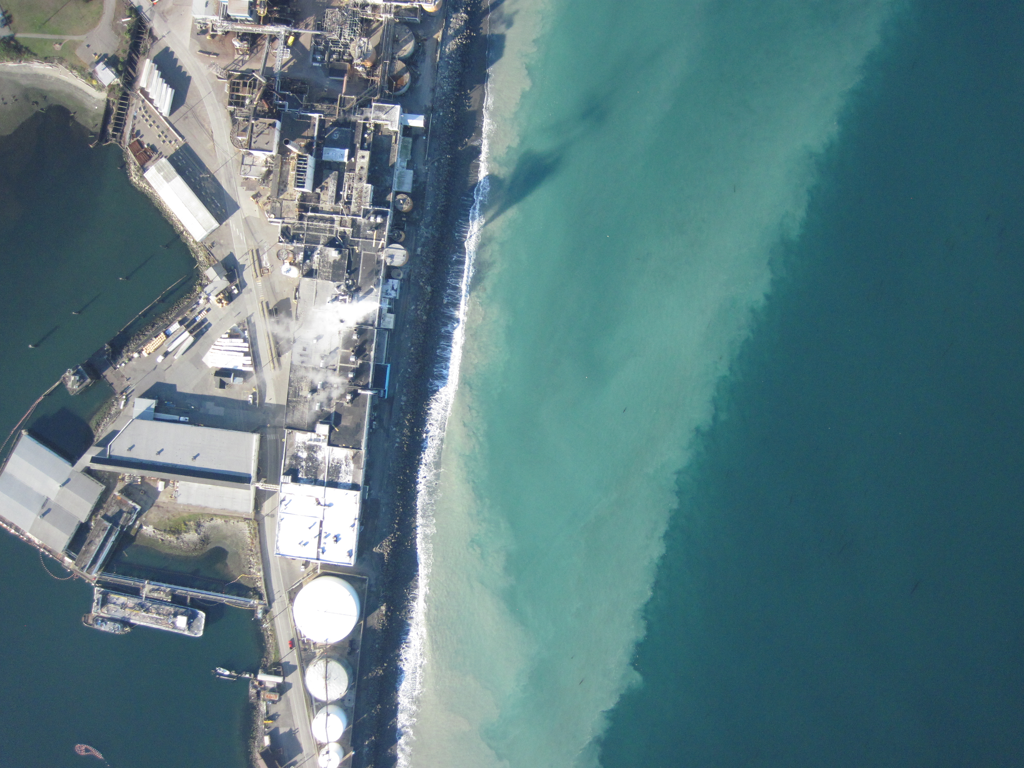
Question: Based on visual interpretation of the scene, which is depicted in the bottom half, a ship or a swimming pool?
ship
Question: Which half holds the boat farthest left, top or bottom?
bottom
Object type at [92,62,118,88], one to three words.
house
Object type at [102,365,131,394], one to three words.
pier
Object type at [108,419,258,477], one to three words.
building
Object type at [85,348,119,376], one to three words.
pier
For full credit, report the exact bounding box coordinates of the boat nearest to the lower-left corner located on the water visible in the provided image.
[82,613,132,635]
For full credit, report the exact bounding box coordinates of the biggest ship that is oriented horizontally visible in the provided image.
[92,588,206,637]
